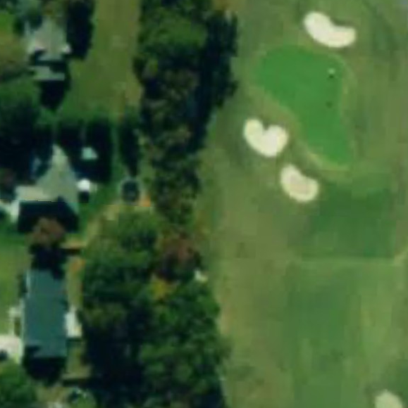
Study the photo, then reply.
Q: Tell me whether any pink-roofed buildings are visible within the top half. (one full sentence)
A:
No, I can find no pink-roofed building within the top half.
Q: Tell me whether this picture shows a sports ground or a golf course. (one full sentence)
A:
It's a golf course.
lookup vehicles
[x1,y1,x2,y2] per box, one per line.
[0,207,5,216]
[0,349,8,357]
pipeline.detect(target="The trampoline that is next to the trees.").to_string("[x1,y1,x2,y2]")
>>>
[121,179,139,197]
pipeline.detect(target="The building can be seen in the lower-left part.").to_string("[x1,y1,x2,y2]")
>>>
[23,267,80,357]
